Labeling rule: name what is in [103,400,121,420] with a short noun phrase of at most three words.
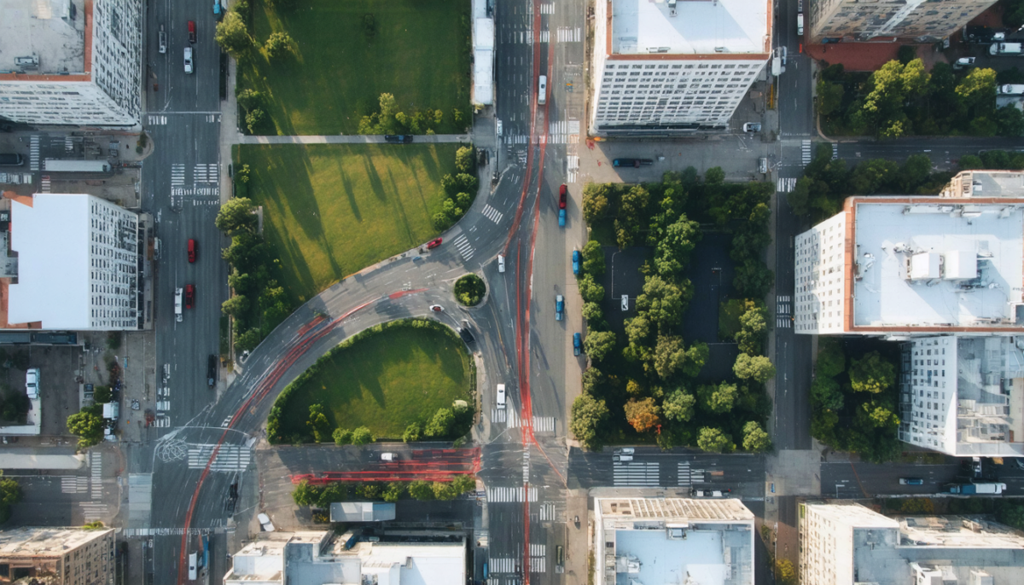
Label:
vehicle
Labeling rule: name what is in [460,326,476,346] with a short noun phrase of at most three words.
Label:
car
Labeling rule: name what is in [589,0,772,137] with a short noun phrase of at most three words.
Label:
building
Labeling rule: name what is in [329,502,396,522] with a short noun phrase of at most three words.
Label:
building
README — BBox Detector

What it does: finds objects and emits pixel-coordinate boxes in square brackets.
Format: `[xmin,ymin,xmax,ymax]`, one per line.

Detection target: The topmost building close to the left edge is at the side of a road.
[0,0,141,129]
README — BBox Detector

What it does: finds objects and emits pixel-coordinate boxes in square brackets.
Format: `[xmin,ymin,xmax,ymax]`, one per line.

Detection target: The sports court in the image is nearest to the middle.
[604,245,653,322]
